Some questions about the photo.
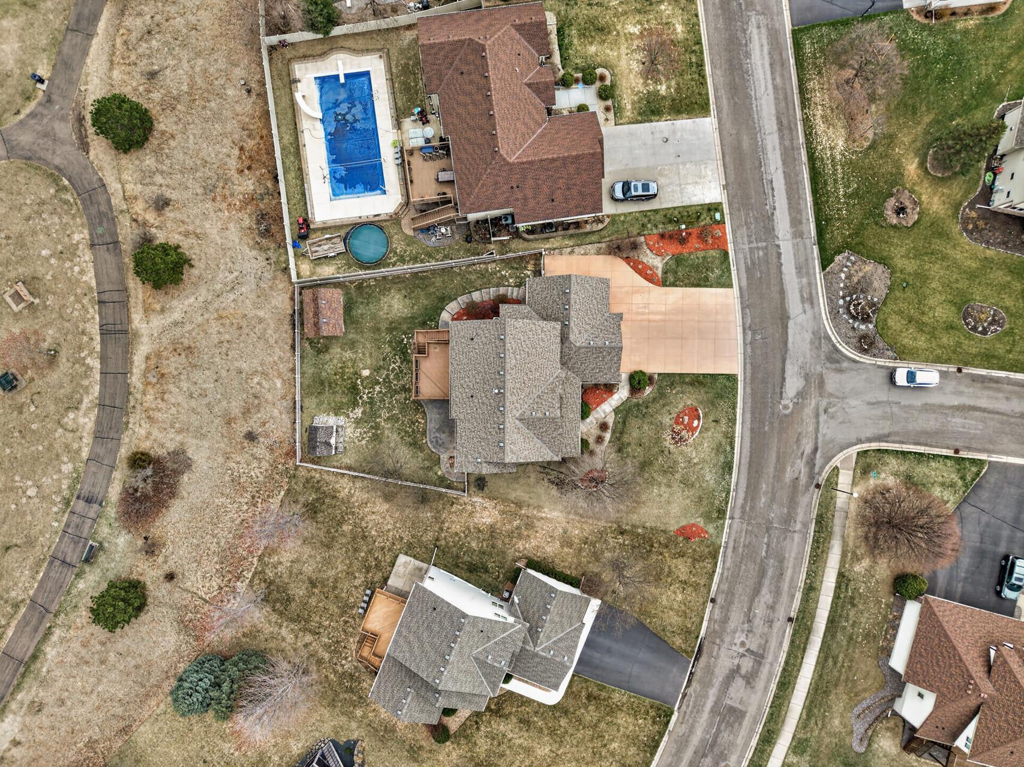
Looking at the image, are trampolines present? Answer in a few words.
Yes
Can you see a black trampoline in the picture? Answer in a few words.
No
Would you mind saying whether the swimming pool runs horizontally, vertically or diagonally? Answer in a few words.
vertically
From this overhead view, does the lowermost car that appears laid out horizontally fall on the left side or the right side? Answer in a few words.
right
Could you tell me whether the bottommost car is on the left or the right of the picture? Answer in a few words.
right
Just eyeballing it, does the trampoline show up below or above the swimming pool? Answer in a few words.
below it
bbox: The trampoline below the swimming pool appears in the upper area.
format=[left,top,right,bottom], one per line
[345,221,390,266]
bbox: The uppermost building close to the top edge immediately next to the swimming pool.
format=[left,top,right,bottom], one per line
[417,0,603,227]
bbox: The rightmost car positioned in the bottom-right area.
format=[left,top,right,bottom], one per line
[997,551,1024,601]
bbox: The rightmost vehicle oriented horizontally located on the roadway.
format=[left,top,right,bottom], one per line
[887,365,940,389]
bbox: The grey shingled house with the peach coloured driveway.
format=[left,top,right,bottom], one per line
[449,274,623,474]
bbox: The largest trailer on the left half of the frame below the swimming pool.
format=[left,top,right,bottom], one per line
[302,233,345,259]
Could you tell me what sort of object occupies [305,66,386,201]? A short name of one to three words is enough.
swimming pool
